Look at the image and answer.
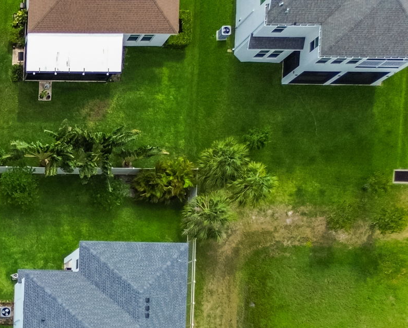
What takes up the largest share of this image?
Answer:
grass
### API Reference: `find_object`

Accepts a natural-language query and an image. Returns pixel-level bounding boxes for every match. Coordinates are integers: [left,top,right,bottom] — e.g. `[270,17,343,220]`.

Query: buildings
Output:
[13,240,188,328]
[235,0,408,84]
[20,0,180,85]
